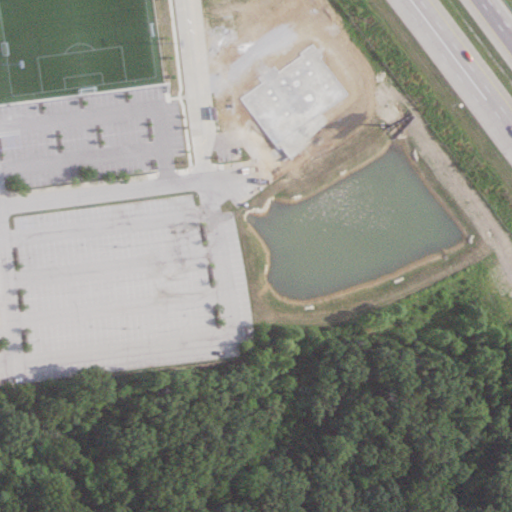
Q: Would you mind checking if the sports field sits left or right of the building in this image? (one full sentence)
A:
To the left of the building is where the sports field appears.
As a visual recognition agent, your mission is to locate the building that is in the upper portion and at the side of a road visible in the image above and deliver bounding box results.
[240,44,348,158]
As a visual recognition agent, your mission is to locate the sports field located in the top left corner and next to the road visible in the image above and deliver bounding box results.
[0,0,162,102]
